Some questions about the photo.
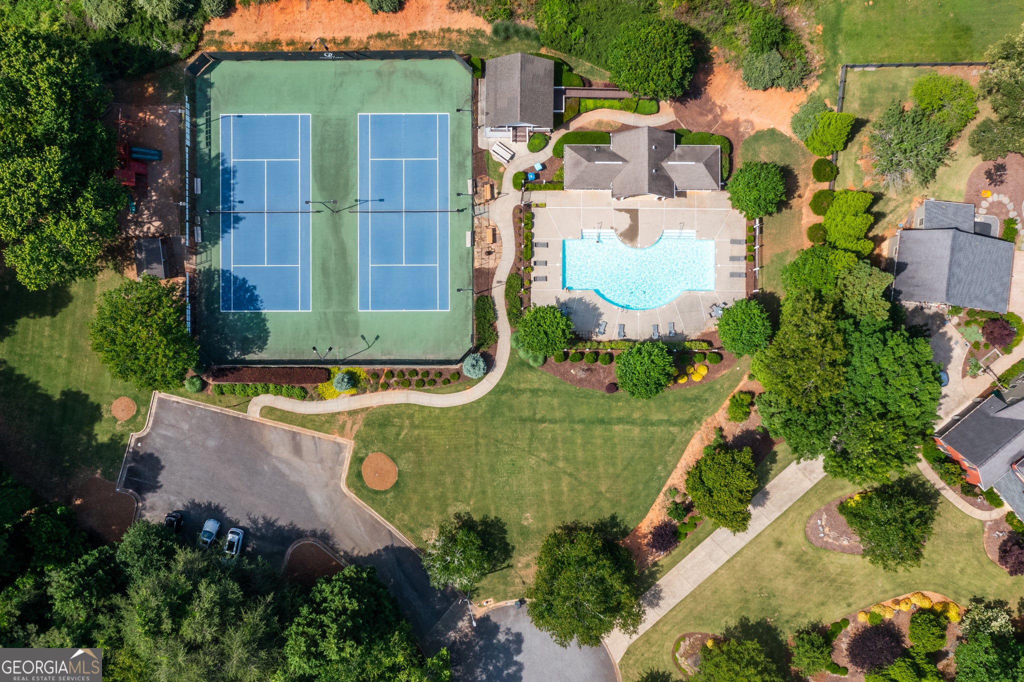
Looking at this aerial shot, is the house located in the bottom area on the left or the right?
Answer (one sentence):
It is on the right.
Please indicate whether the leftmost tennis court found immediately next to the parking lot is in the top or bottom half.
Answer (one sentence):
The leftmost tennis court found immediately next to the parking lot is in the top half of the image.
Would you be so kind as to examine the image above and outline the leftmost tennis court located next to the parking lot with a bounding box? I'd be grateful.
[220,114,311,311]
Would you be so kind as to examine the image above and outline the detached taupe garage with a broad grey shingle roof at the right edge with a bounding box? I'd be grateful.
[883,200,1015,314]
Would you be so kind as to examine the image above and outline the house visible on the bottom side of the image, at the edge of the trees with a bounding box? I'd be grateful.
[932,371,1024,524]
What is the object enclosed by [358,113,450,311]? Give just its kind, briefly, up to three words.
tennis court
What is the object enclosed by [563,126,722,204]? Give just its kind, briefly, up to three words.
building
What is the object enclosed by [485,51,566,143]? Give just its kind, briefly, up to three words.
building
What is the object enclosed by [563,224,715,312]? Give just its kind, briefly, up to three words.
swimming pool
